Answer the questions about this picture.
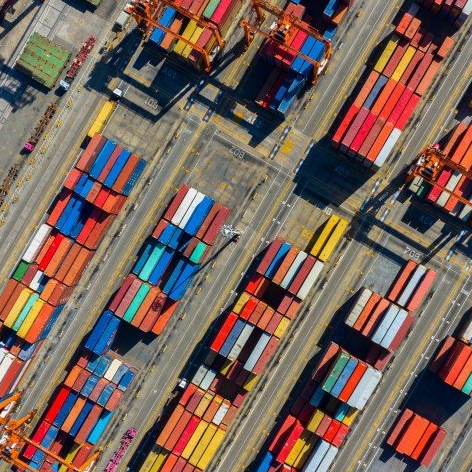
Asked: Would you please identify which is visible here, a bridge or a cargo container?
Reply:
cargo container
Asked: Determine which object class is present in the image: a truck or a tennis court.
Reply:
truck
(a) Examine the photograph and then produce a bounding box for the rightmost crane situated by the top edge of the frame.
[239,0,334,91]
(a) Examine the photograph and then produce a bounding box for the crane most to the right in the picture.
[397,146,472,226]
